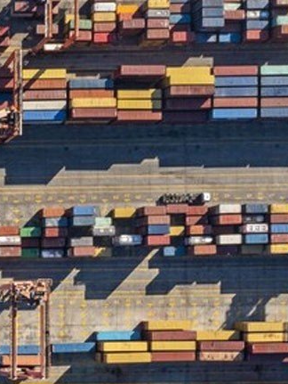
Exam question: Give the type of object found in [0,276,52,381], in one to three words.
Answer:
container crane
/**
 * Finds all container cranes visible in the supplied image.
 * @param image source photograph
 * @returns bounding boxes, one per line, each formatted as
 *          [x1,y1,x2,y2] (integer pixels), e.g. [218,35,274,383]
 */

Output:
[0,276,52,381]
[0,37,27,151]
[9,0,83,68]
